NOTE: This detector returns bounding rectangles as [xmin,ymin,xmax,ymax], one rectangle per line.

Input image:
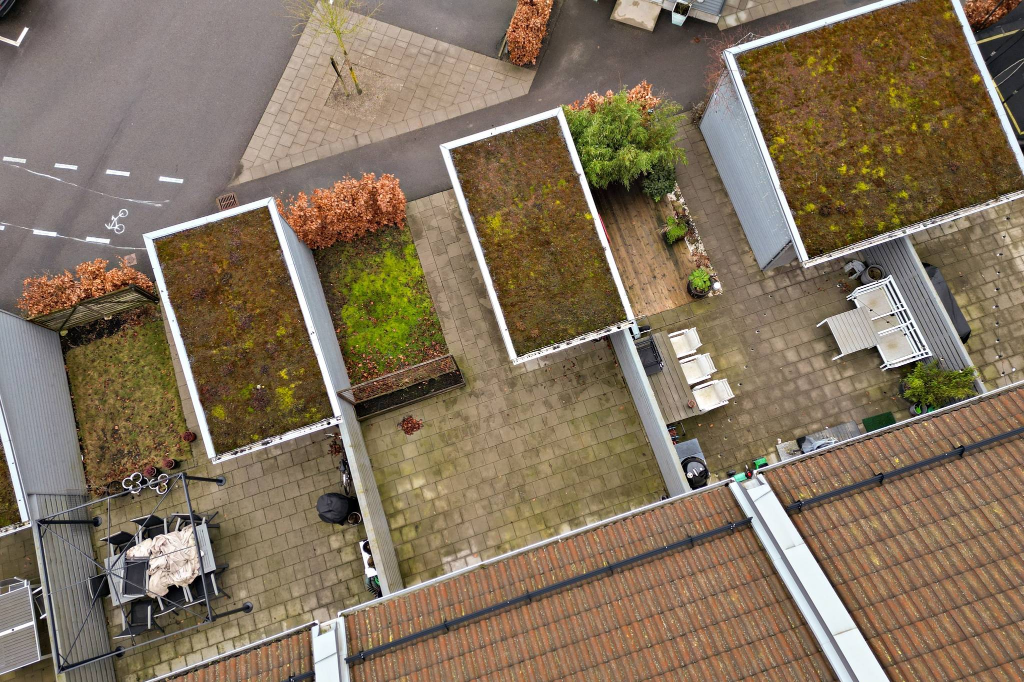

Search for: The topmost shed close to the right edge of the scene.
[698,0,1024,275]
